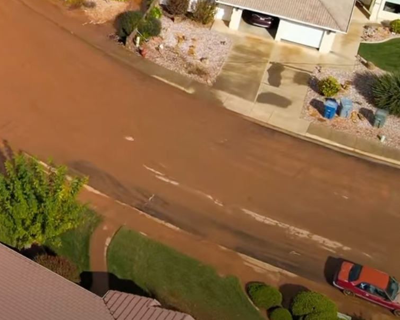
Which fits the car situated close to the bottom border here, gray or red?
red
